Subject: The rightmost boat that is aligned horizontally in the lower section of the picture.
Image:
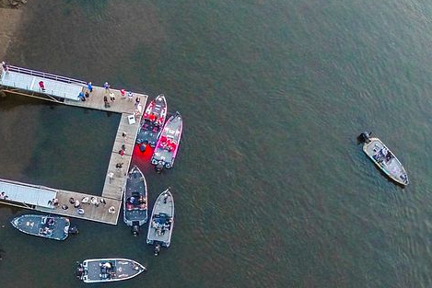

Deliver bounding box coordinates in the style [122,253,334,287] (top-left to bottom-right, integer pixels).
[75,258,145,282]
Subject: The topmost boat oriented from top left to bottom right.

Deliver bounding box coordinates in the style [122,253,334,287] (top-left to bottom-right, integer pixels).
[357,131,408,186]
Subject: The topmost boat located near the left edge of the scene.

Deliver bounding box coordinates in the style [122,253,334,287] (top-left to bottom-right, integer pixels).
[11,214,75,239]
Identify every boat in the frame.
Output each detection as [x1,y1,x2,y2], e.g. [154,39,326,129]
[357,131,408,186]
[138,94,165,152]
[75,258,145,282]
[11,214,75,239]
[154,113,183,173]
[149,186,175,253]
[124,166,147,232]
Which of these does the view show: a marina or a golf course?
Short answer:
marina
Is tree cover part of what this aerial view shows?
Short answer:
No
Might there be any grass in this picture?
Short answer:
No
